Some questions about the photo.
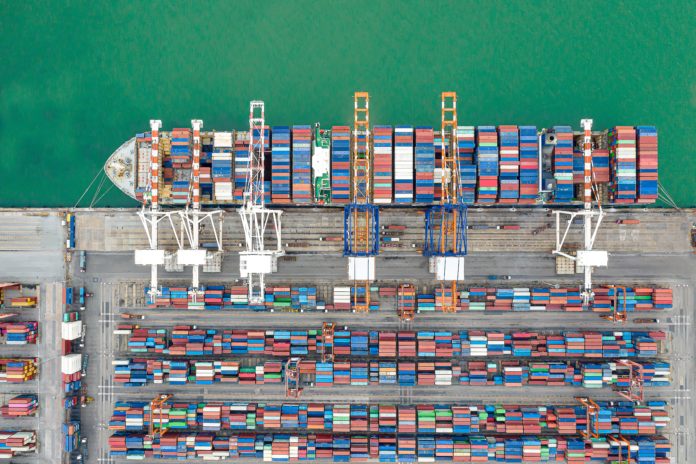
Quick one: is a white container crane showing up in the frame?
Yes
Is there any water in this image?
Yes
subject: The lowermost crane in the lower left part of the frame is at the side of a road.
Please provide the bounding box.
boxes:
[150,389,178,438]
